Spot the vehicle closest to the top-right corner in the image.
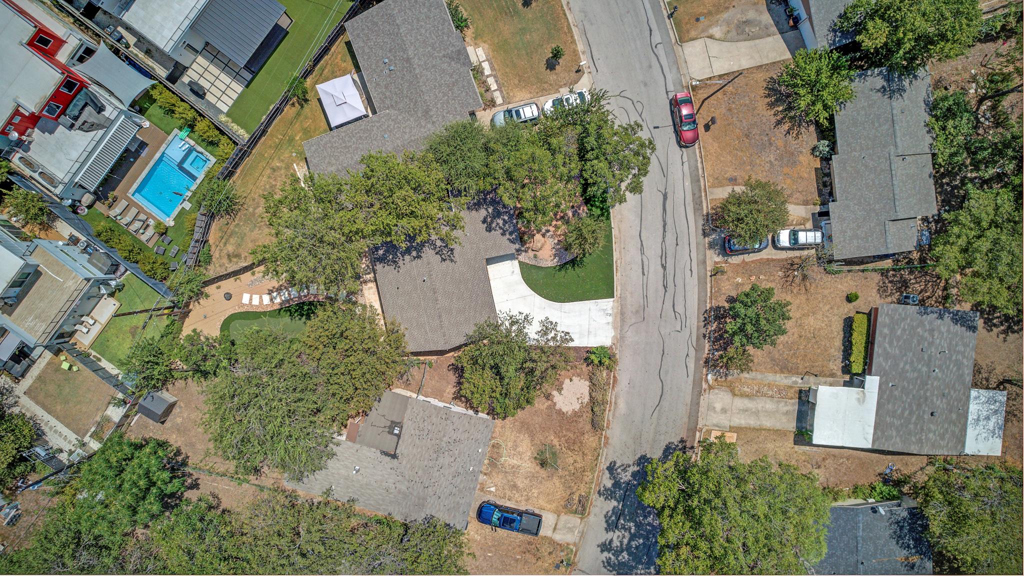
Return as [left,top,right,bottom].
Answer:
[775,224,825,253]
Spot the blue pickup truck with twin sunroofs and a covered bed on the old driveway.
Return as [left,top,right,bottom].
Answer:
[476,498,546,537]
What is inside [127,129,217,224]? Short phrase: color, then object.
blue swimming pool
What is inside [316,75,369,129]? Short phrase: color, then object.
white gazebo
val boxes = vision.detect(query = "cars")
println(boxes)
[775,224,825,253]
[668,92,701,148]
[541,83,593,118]
[724,231,769,258]
[490,98,541,130]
